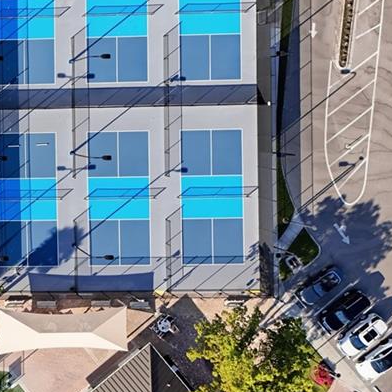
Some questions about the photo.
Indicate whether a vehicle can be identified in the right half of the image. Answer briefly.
Yes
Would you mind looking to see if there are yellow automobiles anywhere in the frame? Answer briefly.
No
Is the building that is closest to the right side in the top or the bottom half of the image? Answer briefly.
bottom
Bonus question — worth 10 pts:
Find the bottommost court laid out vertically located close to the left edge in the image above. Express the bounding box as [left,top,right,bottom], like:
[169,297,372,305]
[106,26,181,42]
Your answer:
[0,132,64,267]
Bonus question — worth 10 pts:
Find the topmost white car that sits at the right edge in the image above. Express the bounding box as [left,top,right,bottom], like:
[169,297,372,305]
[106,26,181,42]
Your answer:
[337,314,388,357]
